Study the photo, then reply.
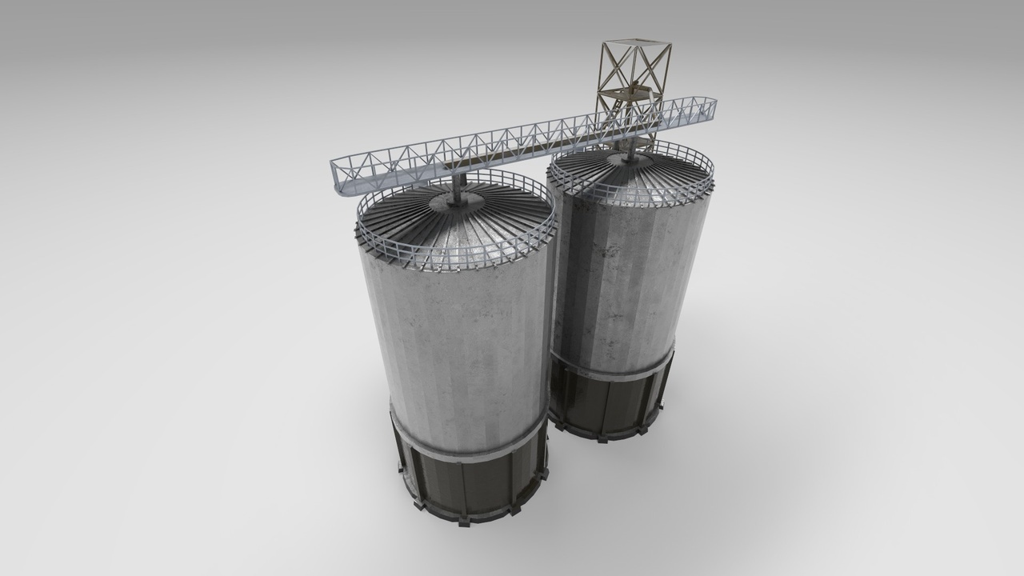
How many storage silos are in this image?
2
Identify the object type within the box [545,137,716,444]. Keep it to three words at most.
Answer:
silo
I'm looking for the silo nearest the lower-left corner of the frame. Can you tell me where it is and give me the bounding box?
[353,169,560,527]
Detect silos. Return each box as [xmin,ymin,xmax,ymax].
[353,169,560,527]
[545,137,716,444]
